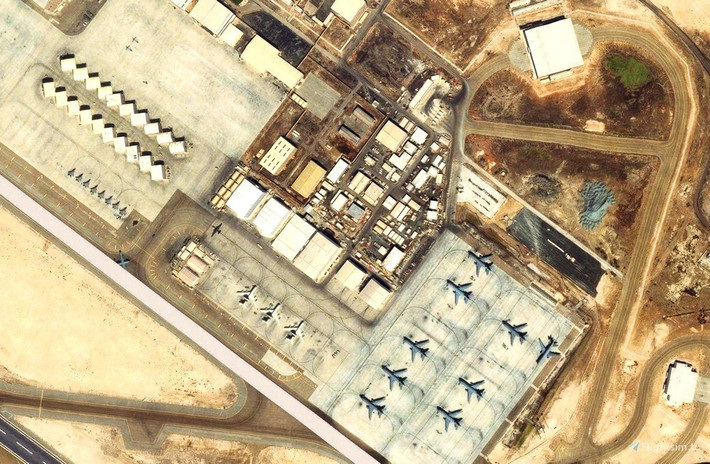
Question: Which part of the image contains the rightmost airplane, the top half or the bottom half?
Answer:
bottom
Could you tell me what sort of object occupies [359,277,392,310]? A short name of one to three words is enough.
hangar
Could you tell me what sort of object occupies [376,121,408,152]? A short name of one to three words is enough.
building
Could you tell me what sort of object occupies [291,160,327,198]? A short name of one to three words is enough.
building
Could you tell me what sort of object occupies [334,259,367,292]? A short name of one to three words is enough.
hangar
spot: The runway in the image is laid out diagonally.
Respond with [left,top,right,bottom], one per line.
[0,175,386,464]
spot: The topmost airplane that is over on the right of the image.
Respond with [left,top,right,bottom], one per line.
[469,252,494,276]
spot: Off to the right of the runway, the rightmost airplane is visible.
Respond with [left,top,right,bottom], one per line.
[537,336,561,363]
